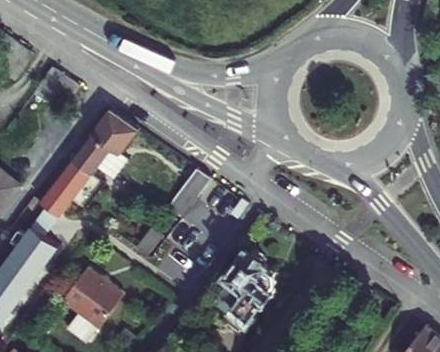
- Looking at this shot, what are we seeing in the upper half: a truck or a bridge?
truck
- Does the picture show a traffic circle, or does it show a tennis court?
traffic circle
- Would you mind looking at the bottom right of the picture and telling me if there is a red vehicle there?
Yes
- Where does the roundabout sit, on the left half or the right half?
right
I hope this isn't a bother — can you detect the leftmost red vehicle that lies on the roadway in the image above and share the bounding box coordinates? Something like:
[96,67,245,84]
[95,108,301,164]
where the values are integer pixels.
[393,260,415,278]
